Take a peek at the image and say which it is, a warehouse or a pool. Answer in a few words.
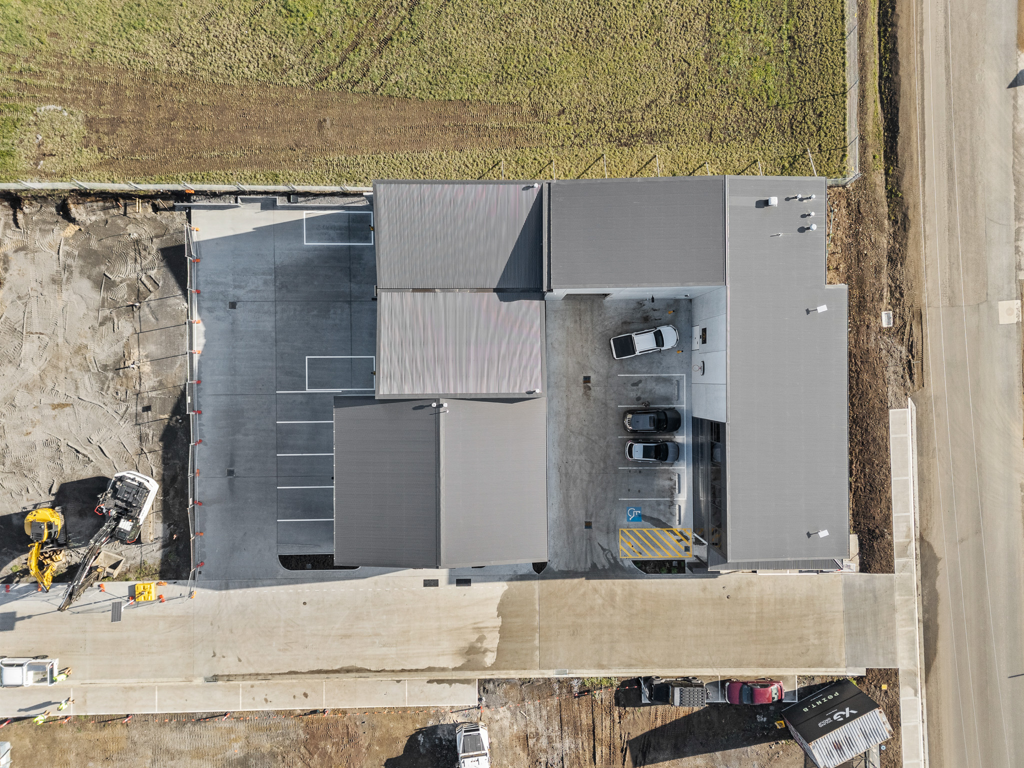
warehouse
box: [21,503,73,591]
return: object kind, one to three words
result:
work vehicle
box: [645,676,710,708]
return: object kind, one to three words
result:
car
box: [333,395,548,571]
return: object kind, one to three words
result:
warehouse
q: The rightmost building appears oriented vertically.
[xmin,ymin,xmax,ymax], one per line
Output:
[690,176,850,571]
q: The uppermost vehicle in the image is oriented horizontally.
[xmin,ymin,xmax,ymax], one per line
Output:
[611,326,681,359]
